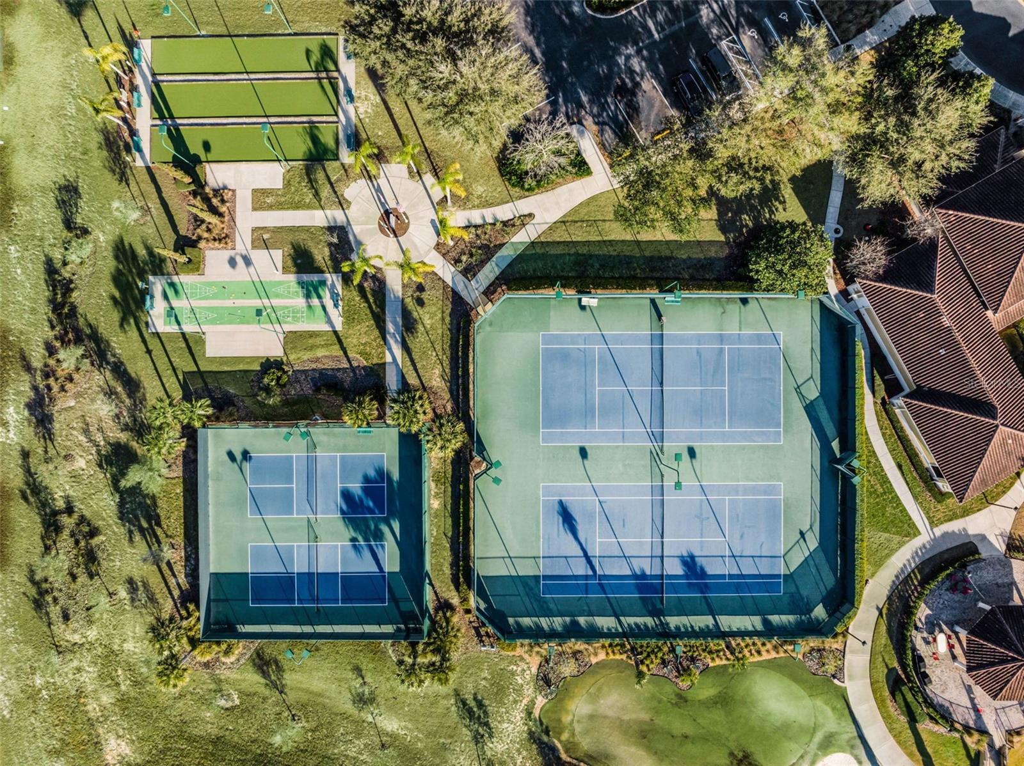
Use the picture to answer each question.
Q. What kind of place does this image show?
sports ground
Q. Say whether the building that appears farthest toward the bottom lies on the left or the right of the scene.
right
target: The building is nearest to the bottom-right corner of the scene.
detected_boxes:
[950,598,1024,703]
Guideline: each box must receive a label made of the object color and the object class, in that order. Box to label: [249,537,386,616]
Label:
blue sports court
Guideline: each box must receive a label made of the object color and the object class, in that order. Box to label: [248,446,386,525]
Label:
blue sports court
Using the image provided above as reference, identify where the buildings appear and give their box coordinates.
[850,125,1024,503]
[950,598,1024,703]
